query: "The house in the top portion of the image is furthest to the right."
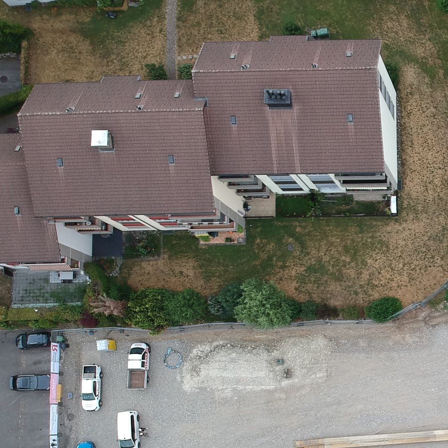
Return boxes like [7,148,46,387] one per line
[189,36,394,193]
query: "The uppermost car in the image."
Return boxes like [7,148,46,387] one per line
[14,331,53,351]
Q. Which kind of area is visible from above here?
residential area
